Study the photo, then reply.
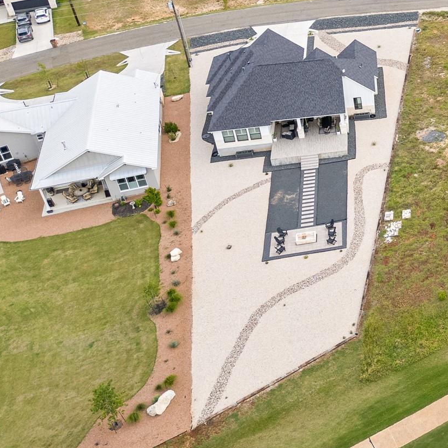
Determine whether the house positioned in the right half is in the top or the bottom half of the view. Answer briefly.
top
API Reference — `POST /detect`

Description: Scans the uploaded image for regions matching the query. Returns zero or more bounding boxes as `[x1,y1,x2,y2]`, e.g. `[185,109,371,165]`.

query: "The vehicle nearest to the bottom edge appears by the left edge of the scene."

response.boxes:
[12,26,36,45]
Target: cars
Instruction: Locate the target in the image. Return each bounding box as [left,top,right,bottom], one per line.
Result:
[11,8,33,25]
[31,8,52,25]
[12,26,36,45]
